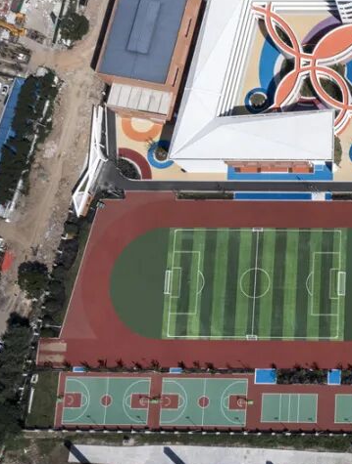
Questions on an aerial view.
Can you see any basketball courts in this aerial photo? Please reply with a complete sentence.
Yes, I can see a basketball court in this picture.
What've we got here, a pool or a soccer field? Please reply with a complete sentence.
Looking from above, you can make out a soccer field.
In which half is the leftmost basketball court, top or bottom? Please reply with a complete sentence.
Seen from above, the leftmost basketball court lies in the bottom half of the view.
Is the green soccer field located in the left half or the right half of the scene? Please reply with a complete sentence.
It is on the right.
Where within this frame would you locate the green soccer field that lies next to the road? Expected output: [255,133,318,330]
[162,228,347,340]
